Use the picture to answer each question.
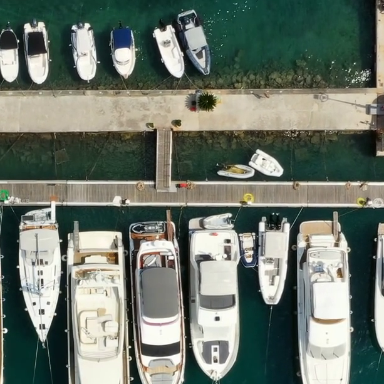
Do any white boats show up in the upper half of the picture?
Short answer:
Yes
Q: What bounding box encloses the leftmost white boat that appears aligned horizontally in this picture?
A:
[21,208,55,223]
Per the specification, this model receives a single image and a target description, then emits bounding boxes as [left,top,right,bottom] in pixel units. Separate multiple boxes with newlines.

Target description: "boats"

[61,221,134,384]
[0,18,21,82]
[129,210,188,384]
[178,7,211,75]
[16,196,63,345]
[258,214,290,304]
[133,223,166,234]
[210,163,255,178]
[23,13,52,83]
[248,148,284,175]
[204,214,235,229]
[70,15,101,85]
[371,223,384,350]
[291,211,355,384]
[21,208,55,223]
[109,18,139,80]
[238,233,257,268]
[188,217,241,384]
[153,16,184,79]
